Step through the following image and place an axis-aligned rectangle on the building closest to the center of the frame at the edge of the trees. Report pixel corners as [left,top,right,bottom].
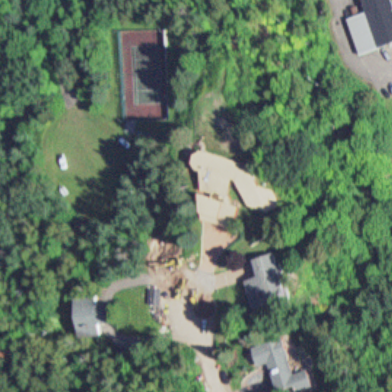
[190,150,276,222]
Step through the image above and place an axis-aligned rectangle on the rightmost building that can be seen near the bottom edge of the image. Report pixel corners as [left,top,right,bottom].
[250,340,310,392]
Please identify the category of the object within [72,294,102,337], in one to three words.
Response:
house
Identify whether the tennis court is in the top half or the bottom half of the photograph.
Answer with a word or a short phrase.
top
